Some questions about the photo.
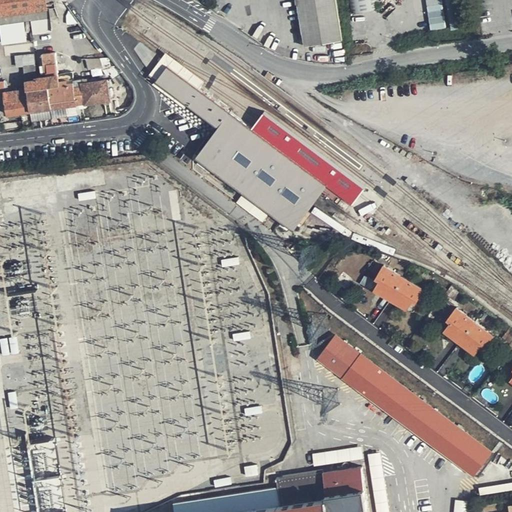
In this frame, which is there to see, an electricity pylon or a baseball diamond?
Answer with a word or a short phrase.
electricity pylon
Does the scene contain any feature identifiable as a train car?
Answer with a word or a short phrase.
Yes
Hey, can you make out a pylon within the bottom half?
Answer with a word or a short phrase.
Yes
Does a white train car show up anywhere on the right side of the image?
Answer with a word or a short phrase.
Yes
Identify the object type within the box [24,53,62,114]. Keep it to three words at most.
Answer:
house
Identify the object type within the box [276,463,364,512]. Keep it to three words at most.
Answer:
building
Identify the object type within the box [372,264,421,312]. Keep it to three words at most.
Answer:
house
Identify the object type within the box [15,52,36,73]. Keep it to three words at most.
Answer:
shed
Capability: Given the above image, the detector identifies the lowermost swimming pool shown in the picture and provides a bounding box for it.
[480,386,500,404]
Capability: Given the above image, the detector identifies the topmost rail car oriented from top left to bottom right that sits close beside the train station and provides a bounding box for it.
[312,205,353,236]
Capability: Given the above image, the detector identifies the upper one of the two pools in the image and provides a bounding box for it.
[468,364,486,384]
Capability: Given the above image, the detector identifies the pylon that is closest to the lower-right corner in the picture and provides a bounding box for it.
[317,390,342,436]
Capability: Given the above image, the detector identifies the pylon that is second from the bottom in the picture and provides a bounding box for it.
[302,316,326,357]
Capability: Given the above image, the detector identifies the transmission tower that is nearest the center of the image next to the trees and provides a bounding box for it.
[292,250,316,287]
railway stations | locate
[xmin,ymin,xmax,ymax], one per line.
[149,53,325,233]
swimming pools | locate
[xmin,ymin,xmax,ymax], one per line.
[480,386,500,404]
[468,364,486,384]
